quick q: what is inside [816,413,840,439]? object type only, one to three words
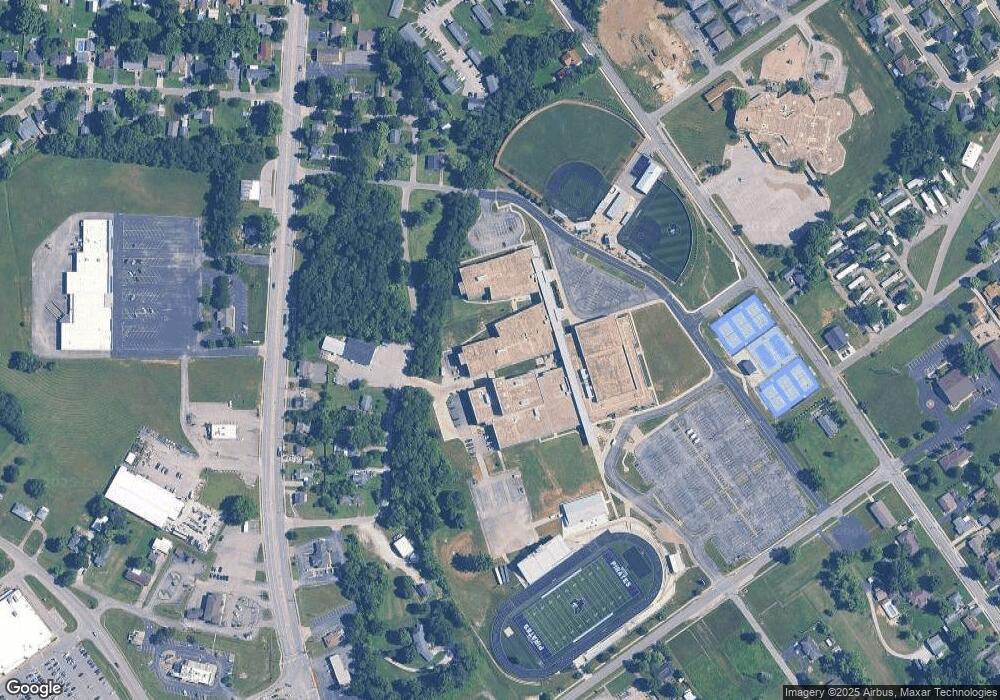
shed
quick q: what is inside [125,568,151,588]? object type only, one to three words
house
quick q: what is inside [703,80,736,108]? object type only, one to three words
building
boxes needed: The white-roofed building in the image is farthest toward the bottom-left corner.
[0,590,55,674]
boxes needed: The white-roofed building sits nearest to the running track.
[562,492,609,530]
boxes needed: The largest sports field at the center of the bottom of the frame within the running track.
[516,551,641,662]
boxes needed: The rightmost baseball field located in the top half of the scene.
[617,181,692,282]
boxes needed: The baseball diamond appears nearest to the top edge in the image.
[494,101,645,223]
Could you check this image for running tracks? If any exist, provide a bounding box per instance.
[489,529,665,680]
